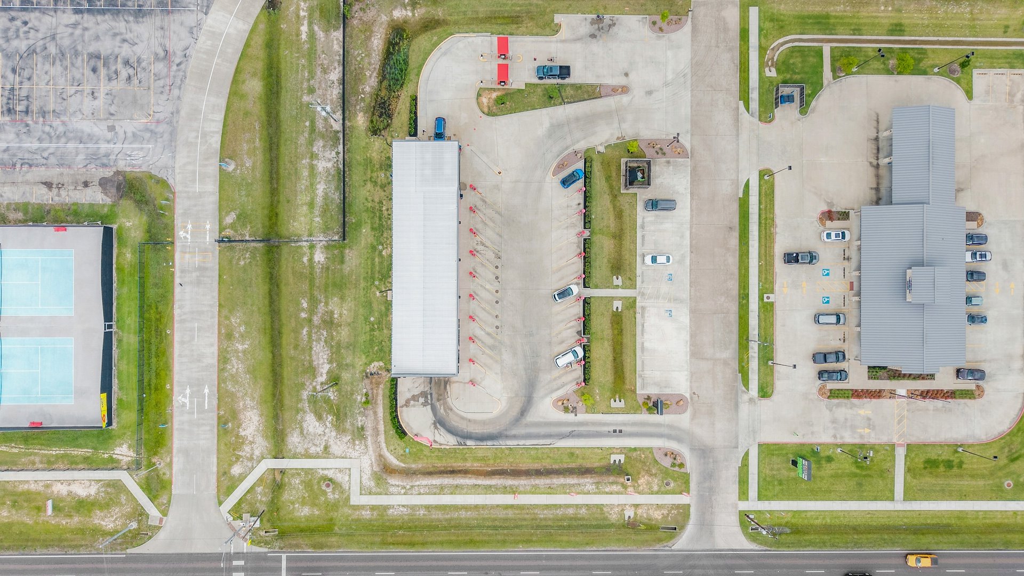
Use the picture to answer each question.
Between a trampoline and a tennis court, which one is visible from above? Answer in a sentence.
Visible in the photo is a tennis court.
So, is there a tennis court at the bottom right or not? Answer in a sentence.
No, I can find no tennis court at the bottom right.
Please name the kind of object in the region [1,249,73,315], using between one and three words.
tennis court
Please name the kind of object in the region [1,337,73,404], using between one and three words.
tennis court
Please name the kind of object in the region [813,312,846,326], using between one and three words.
car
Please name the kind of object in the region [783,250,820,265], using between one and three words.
vehicle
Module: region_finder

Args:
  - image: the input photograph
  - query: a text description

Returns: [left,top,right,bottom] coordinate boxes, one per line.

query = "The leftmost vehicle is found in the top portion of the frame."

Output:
[433,117,446,139]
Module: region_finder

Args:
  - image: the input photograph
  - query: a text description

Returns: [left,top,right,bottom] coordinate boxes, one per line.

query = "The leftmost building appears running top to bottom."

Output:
[391,139,461,378]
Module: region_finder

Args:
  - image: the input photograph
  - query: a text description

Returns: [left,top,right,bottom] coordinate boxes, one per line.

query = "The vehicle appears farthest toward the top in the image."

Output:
[536,64,570,79]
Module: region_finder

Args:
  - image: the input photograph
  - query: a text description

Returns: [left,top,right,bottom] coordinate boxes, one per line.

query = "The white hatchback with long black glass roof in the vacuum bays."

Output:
[552,284,579,303]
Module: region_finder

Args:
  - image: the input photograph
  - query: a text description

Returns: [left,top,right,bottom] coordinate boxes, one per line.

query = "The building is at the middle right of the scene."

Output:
[852,103,966,375]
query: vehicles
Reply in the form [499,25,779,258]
[904,553,939,569]
[820,228,850,242]
[554,346,584,368]
[966,269,987,283]
[966,250,993,263]
[817,369,848,382]
[644,253,672,266]
[536,64,570,79]
[966,232,990,246]
[559,169,586,190]
[955,368,986,381]
[433,117,446,139]
[966,313,990,326]
[645,198,677,212]
[552,284,579,303]
[966,294,985,307]
[813,312,846,326]
[783,250,820,265]
[811,350,847,365]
